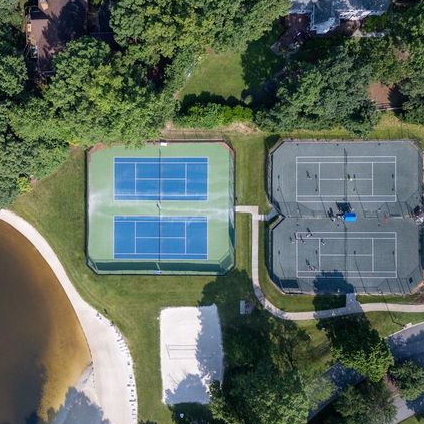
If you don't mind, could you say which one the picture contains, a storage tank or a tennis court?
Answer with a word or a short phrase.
tennis court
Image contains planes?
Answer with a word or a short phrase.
No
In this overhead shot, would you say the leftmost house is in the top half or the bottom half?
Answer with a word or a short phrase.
top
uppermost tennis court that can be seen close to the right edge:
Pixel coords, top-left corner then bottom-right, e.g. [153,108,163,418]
[275,142,422,217]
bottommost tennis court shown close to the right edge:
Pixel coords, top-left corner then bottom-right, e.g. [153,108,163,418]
[273,217,422,293]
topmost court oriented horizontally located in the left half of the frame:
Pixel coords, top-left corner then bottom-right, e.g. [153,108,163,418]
[89,143,233,209]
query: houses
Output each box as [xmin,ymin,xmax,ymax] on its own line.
[280,0,394,39]
[22,0,89,61]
